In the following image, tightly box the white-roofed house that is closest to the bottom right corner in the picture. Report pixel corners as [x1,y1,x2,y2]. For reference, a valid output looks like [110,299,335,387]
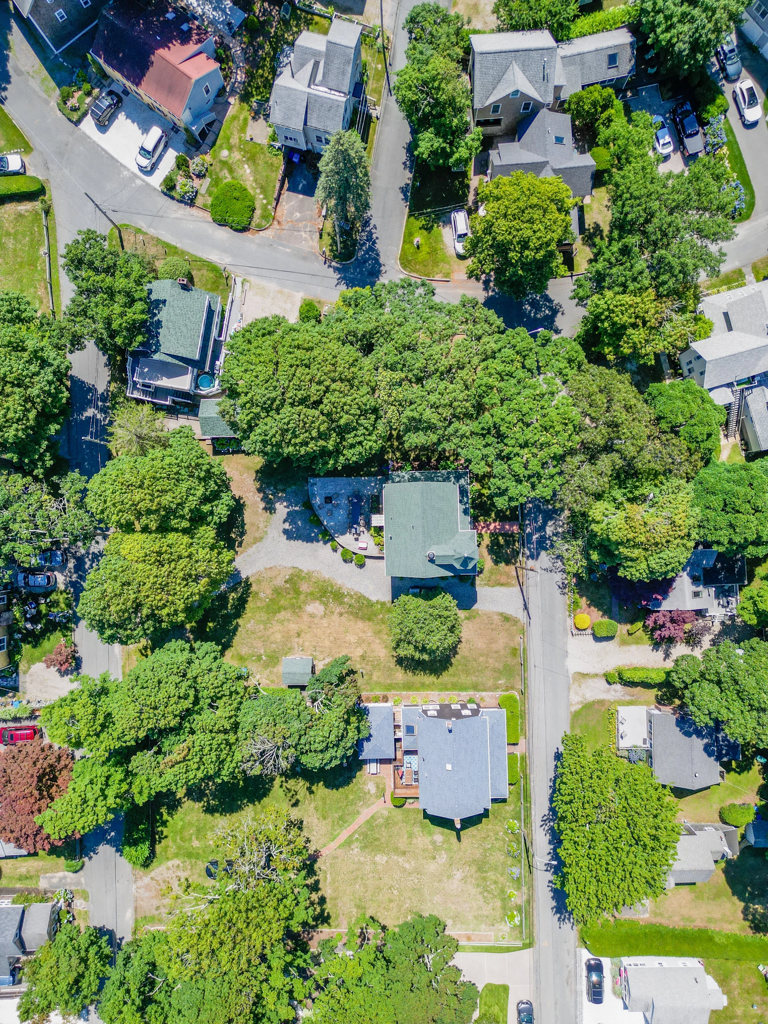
[614,953,727,1024]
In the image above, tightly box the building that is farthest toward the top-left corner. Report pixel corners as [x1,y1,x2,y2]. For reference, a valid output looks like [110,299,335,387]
[12,0,96,52]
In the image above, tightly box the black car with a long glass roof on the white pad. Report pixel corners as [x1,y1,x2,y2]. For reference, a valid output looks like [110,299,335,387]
[583,954,607,1005]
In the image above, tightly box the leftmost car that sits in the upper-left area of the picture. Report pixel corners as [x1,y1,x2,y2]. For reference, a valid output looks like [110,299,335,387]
[0,152,27,177]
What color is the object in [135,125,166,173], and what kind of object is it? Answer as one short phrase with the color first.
white car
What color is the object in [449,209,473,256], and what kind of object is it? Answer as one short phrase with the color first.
white car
